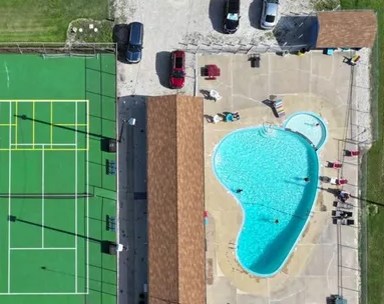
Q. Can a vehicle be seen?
Yes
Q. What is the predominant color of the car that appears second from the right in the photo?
black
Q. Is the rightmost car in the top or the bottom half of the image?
top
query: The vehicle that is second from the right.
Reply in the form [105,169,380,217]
[220,0,241,35]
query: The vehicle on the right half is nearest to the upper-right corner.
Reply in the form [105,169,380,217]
[259,0,278,30]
